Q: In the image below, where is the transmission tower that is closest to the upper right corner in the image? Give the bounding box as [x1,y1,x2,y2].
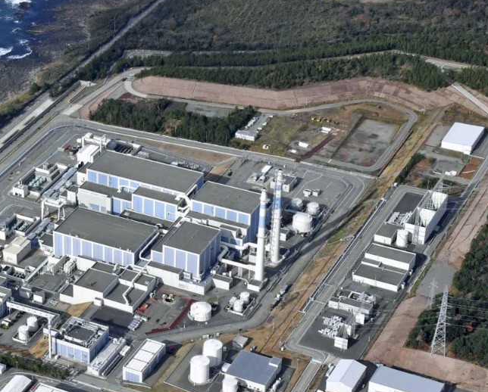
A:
[434,167,449,193]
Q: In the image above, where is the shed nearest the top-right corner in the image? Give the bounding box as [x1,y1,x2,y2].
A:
[441,121,484,154]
